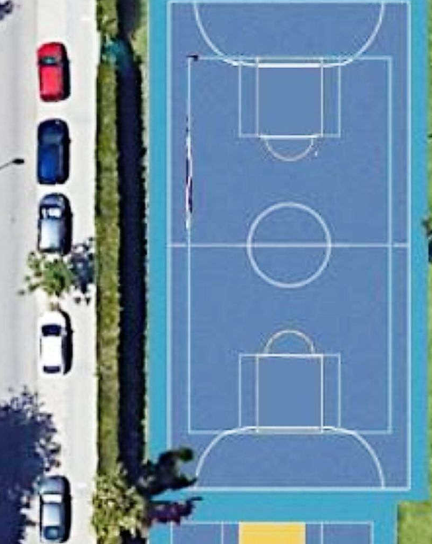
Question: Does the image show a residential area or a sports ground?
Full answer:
This looks like a sports ground.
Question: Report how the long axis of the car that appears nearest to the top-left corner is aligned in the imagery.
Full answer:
The car that appears nearest to the top-left corner runs up and down in the image.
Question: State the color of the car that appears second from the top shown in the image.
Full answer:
The car that appears second from the top is blue.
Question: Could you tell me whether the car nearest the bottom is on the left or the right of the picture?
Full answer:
You can find the car nearest the bottom on the left side of the picture.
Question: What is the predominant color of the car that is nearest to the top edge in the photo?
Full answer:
The car that is nearest to the top edge is red.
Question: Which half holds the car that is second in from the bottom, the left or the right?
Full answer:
It is on the left.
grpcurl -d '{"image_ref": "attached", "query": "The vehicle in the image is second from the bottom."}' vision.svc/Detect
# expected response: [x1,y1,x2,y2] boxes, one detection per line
[38,312,66,374]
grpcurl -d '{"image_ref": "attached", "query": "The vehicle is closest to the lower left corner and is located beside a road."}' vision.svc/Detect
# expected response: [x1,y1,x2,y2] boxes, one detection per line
[38,477,66,543]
